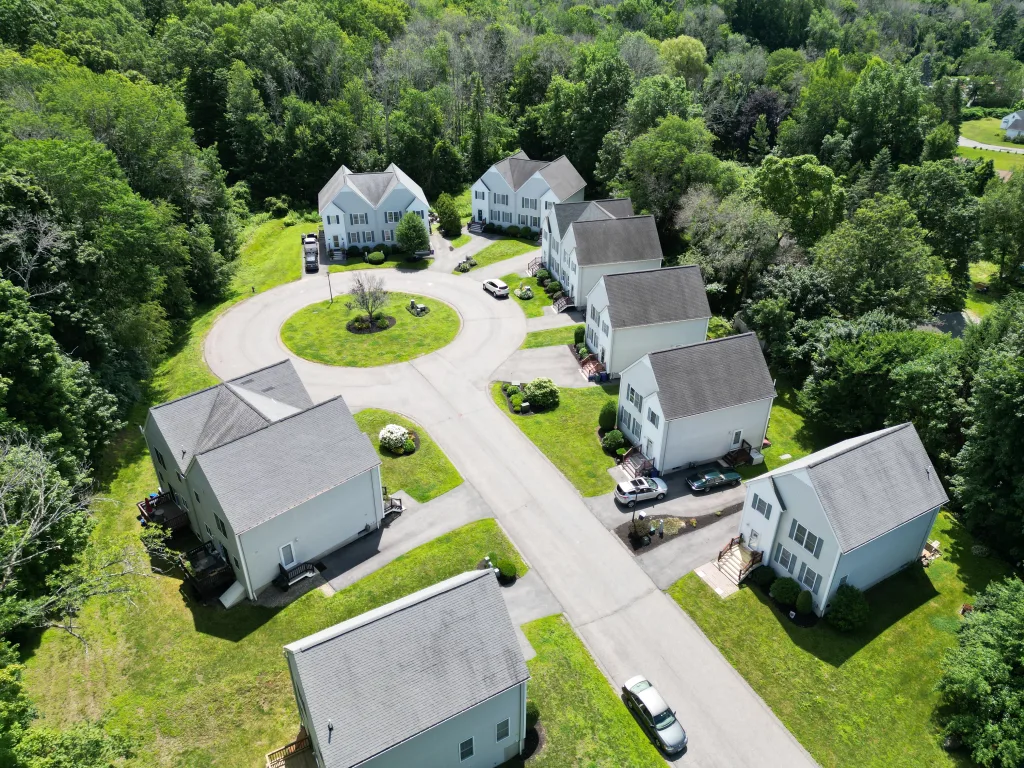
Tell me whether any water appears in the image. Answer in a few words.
No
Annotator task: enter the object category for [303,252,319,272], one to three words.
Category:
car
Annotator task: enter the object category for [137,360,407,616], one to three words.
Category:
house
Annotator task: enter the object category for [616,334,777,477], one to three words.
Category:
house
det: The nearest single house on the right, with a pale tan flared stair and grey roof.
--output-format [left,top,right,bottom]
[707,424,949,614]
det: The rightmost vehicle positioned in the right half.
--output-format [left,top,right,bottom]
[686,463,746,490]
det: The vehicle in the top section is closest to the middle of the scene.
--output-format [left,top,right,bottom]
[481,277,510,295]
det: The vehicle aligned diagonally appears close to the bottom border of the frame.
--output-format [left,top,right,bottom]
[621,673,692,753]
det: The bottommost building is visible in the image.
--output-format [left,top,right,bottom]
[269,573,530,768]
